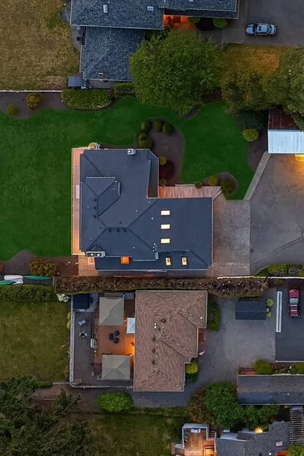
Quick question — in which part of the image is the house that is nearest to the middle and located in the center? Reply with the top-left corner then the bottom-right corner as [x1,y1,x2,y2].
[80,149,214,270]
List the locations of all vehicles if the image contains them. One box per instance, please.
[286,289,301,317]
[245,22,277,37]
